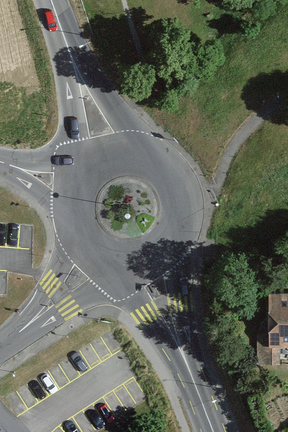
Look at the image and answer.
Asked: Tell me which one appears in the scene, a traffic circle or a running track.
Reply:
traffic circle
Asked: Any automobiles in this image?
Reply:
Yes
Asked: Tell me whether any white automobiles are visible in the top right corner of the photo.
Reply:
No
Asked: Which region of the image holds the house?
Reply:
bottom right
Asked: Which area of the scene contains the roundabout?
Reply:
center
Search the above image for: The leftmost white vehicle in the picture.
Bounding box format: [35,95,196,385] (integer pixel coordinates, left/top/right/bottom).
[40,374,58,394]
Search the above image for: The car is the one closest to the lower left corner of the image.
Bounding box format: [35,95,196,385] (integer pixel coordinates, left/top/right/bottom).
[28,379,47,400]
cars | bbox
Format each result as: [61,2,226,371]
[8,223,19,246]
[0,223,6,246]
[40,374,58,394]
[28,379,47,400]
[52,156,74,166]
[71,351,89,373]
[44,10,58,32]
[70,116,80,139]
[87,410,105,432]
[65,420,80,432]
[97,404,114,424]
